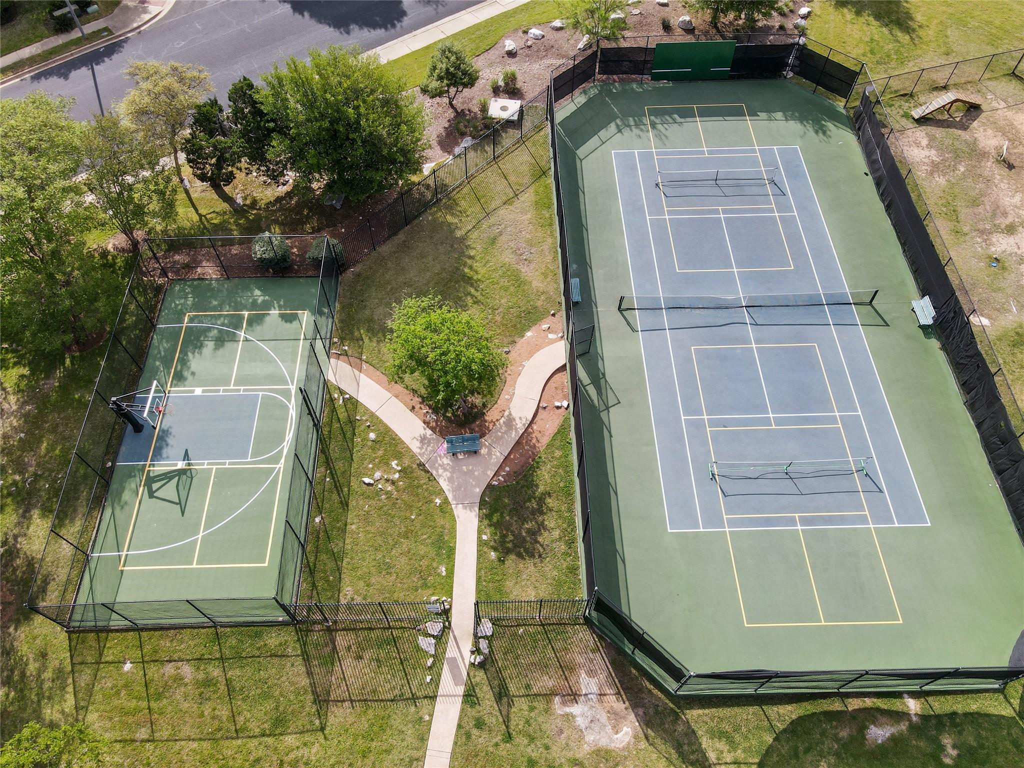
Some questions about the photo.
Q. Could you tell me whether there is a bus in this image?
No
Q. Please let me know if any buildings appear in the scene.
No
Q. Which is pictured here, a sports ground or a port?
sports ground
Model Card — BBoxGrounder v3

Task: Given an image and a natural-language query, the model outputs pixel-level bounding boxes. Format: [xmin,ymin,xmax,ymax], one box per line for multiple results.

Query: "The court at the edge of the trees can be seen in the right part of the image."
[545,77,1024,700]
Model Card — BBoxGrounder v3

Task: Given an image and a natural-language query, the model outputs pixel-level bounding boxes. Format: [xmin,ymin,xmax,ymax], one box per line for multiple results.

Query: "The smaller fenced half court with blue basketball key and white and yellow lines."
[67,274,343,632]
